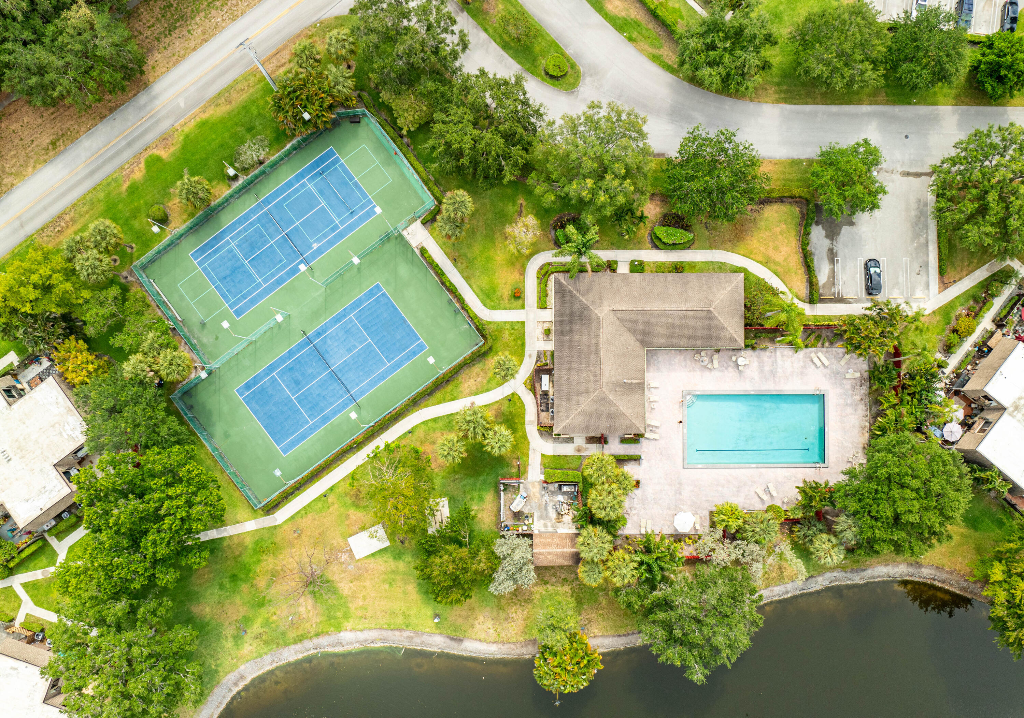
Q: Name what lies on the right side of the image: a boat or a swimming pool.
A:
swimming pool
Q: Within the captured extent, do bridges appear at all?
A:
No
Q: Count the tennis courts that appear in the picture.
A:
two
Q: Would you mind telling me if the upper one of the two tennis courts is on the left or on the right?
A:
left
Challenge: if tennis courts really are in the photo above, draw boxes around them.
[145,117,433,362]
[182,235,483,503]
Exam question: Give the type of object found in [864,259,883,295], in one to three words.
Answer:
car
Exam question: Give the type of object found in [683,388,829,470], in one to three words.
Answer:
swimming pool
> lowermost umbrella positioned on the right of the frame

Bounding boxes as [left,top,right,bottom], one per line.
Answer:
[671,510,695,533]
